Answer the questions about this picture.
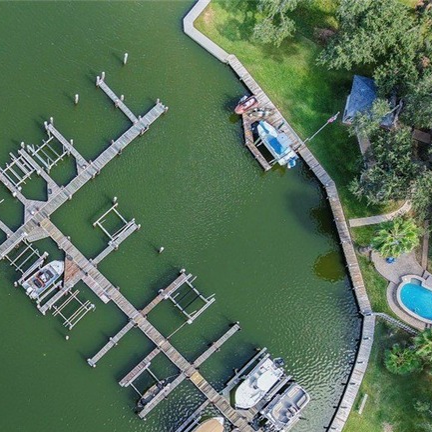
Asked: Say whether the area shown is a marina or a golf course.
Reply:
marina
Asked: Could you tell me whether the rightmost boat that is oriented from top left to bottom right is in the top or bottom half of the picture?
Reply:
top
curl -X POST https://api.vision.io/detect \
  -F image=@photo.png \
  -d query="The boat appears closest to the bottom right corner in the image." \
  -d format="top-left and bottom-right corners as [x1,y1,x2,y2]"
[257,385,309,431]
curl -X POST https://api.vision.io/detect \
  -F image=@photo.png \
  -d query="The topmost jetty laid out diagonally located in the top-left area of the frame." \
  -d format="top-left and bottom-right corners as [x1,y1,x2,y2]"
[95,71,140,124]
